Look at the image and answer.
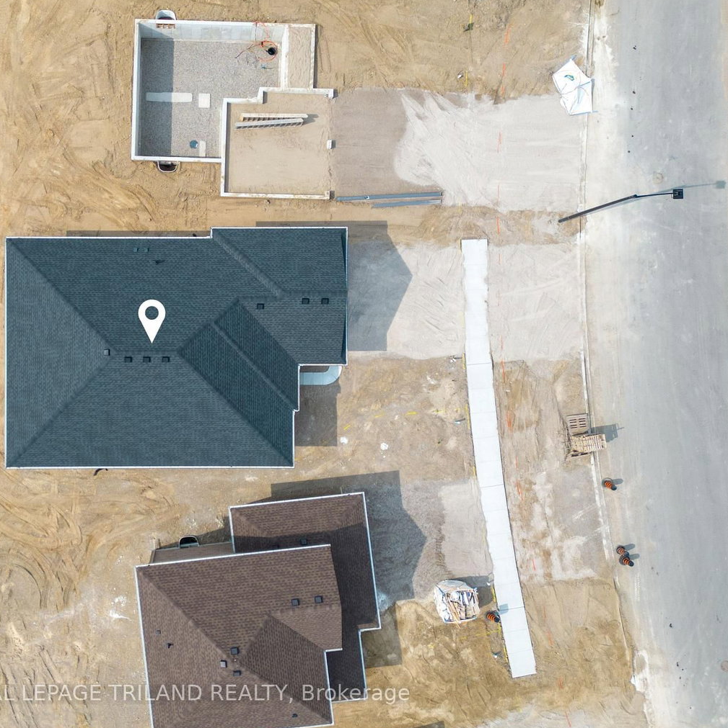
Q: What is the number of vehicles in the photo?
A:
0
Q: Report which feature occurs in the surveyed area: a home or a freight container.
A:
home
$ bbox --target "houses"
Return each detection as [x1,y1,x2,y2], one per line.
[134,490,382,728]
[5,225,349,476]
